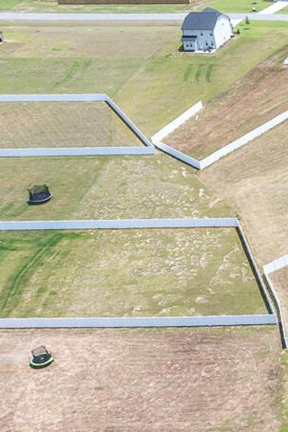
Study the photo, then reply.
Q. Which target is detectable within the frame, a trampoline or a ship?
trampoline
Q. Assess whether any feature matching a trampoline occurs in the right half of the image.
No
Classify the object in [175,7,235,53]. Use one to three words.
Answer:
house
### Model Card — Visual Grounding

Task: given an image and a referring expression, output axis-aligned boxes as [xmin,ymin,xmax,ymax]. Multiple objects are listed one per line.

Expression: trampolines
[24,182,49,202]
[20,341,55,368]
